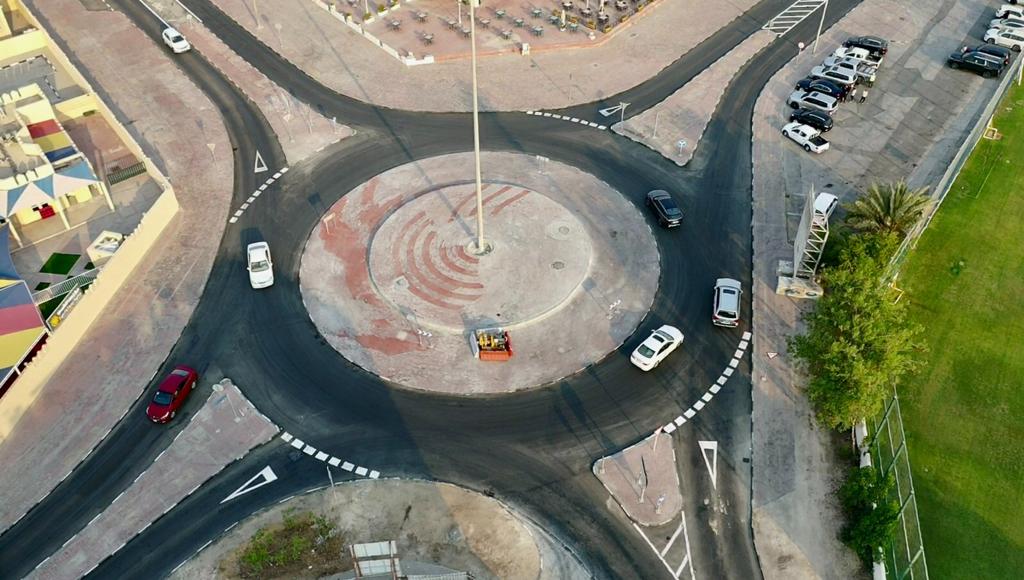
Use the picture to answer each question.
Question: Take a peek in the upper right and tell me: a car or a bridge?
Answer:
car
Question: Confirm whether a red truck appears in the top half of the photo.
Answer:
No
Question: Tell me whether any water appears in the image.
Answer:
No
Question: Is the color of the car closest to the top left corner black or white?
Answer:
white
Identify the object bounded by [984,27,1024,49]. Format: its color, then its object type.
white car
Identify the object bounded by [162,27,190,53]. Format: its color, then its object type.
white car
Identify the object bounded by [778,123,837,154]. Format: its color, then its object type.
white truck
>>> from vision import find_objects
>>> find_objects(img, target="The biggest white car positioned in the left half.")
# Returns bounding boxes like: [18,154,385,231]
[245,243,275,289]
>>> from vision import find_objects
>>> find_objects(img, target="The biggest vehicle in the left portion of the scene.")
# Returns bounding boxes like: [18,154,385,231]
[145,364,199,424]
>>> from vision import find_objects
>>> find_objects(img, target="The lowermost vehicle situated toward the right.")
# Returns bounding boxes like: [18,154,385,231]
[629,325,683,374]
